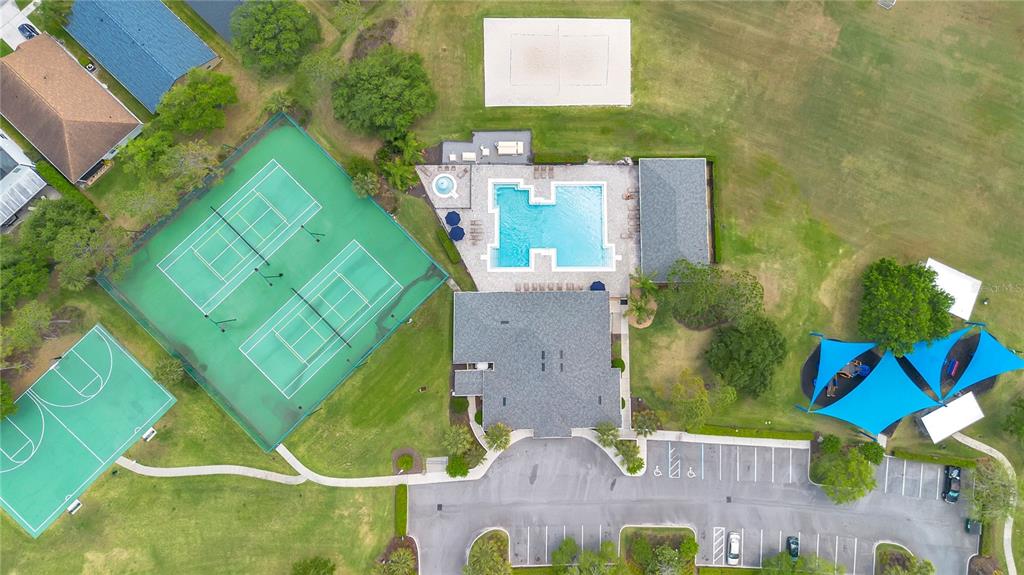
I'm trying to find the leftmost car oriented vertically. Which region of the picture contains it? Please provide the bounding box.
[726,531,742,563]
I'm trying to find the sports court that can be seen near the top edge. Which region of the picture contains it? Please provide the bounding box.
[484,18,632,106]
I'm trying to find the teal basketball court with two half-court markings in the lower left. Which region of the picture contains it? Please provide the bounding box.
[0,324,176,539]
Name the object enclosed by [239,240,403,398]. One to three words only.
tennis court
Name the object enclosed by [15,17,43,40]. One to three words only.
car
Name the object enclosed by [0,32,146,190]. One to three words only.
house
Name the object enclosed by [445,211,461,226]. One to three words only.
umbrella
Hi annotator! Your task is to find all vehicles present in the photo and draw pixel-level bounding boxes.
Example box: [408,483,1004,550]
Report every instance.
[726,531,742,563]
[15,17,43,40]
[942,465,962,502]
[784,535,799,563]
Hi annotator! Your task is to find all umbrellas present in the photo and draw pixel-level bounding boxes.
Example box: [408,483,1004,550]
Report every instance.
[449,226,464,241]
[445,211,461,226]
[590,279,605,292]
